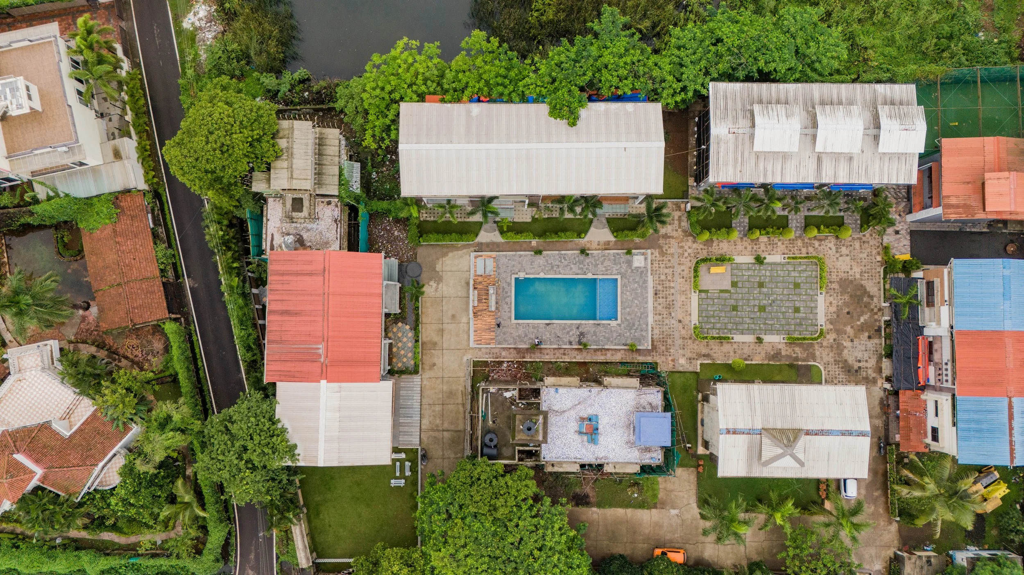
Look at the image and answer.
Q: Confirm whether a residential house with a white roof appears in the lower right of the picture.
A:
Yes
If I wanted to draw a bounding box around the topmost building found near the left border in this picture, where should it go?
[0,22,158,198]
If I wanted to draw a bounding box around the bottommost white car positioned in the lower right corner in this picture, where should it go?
[840,479,861,501]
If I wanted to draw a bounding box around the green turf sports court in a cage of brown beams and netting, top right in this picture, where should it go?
[903,64,1024,147]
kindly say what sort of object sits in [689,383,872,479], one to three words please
house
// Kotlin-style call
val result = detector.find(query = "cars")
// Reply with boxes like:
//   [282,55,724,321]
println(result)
[654,548,689,567]
[840,479,861,501]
